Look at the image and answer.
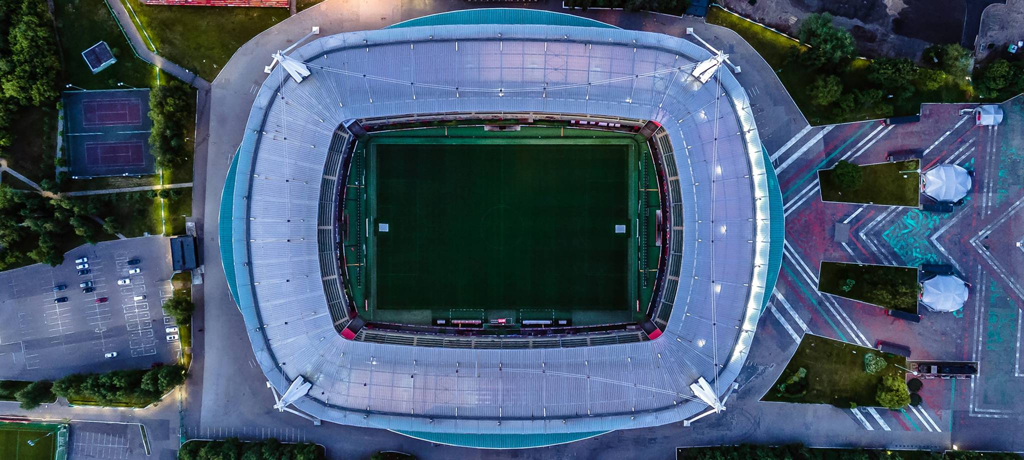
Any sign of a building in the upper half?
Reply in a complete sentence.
Yes, a building shows up in the upper half.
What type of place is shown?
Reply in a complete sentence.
The area seen from above is a sports ground.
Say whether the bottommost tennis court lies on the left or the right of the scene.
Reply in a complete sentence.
The bottommost tennis court is on the left side of the image.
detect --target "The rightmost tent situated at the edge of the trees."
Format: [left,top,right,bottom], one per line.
[974,105,1003,125]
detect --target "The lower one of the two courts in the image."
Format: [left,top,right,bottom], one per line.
[65,130,159,177]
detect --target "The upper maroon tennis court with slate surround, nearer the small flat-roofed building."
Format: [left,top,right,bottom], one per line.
[64,89,152,134]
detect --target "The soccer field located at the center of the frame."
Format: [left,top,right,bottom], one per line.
[342,125,663,331]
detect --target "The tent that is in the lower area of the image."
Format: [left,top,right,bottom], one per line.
[920,274,970,312]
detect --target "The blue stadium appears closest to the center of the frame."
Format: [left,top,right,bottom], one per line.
[218,7,785,450]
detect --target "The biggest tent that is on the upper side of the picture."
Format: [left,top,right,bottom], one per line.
[921,163,972,202]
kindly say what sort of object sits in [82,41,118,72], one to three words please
building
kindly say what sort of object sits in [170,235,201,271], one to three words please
building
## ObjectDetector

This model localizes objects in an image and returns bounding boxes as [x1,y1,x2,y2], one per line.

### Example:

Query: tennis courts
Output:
[64,89,152,134]
[65,130,159,177]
